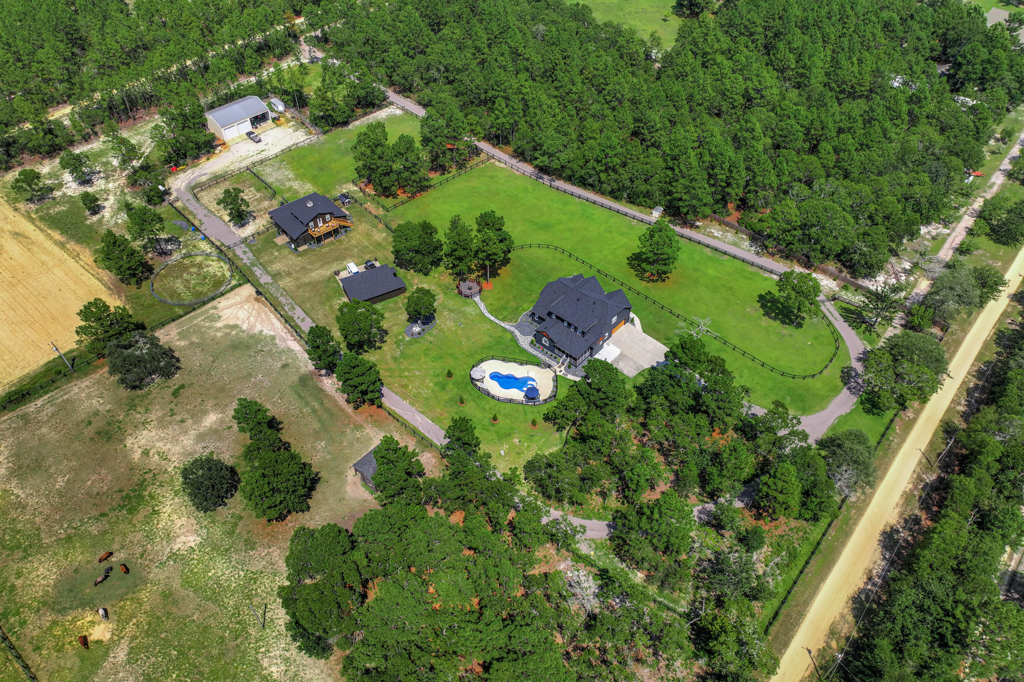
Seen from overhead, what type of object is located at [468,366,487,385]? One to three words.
umbrella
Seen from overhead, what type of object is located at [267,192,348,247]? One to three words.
barn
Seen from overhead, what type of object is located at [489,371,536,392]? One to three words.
swimming pool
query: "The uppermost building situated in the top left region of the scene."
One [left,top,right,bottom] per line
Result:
[201,96,271,140]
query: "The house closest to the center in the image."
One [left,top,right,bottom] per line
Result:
[530,273,635,368]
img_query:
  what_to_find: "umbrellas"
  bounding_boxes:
[525,386,540,398]
[468,366,487,385]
